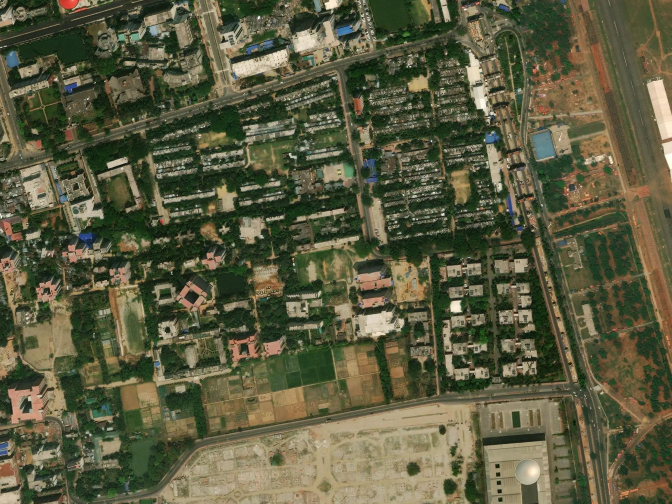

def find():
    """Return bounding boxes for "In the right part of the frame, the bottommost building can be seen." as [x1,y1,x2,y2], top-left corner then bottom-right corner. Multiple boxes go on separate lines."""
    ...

[483,437,554,504]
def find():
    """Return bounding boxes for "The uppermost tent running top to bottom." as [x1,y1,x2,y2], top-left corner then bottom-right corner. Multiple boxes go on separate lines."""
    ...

[647,79,672,139]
